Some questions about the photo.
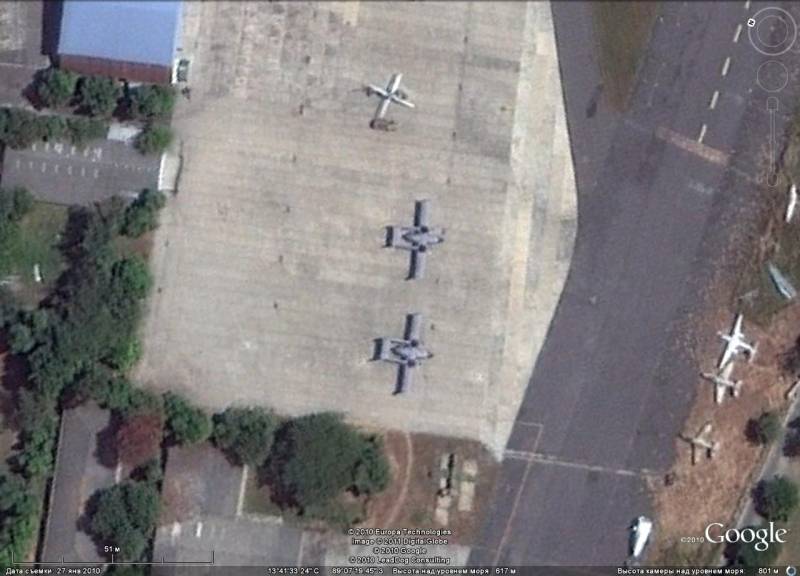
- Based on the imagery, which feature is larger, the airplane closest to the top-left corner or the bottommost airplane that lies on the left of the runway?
the bottommost airplane that lies on the left of the runway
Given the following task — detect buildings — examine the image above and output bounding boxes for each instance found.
[107,124,139,145]
[58,0,184,84]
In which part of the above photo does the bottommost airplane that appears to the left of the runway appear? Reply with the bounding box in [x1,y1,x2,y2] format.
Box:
[380,314,435,393]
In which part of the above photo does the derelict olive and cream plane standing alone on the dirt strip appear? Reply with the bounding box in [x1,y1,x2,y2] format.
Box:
[678,424,720,463]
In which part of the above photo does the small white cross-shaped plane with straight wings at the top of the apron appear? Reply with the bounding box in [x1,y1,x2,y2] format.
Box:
[364,73,415,118]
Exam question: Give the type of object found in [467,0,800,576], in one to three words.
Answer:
runway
